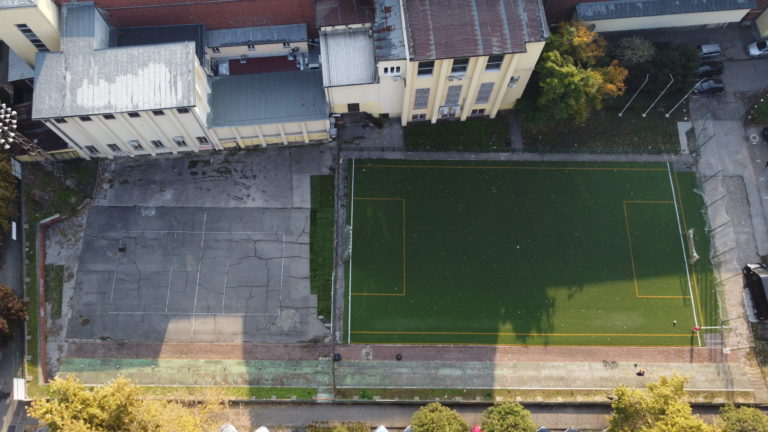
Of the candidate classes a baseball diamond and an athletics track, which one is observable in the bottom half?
athletics track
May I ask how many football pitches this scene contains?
1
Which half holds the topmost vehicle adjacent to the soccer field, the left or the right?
right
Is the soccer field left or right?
right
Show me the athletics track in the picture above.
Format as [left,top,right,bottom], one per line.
[58,341,754,400]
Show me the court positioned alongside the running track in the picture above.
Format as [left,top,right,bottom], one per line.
[70,152,330,341]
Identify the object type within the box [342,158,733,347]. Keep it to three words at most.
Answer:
soccer field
